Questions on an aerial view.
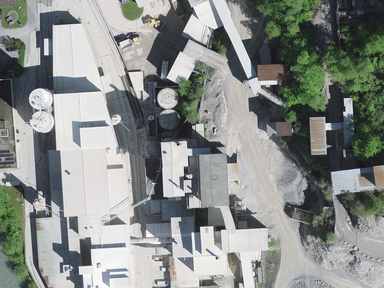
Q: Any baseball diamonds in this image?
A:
No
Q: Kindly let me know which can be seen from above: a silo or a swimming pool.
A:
silo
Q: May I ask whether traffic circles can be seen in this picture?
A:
No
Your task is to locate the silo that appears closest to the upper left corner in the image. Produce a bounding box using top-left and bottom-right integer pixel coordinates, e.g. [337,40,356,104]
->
[29,88,53,112]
